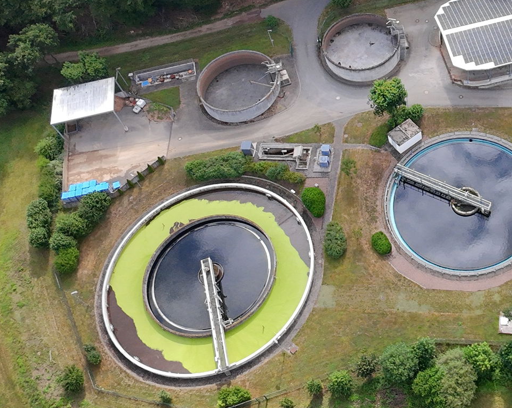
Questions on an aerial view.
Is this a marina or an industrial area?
industrial area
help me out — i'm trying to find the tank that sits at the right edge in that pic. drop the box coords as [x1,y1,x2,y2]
[386,132,512,277]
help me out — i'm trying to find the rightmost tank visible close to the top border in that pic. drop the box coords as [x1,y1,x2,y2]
[323,10,409,81]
